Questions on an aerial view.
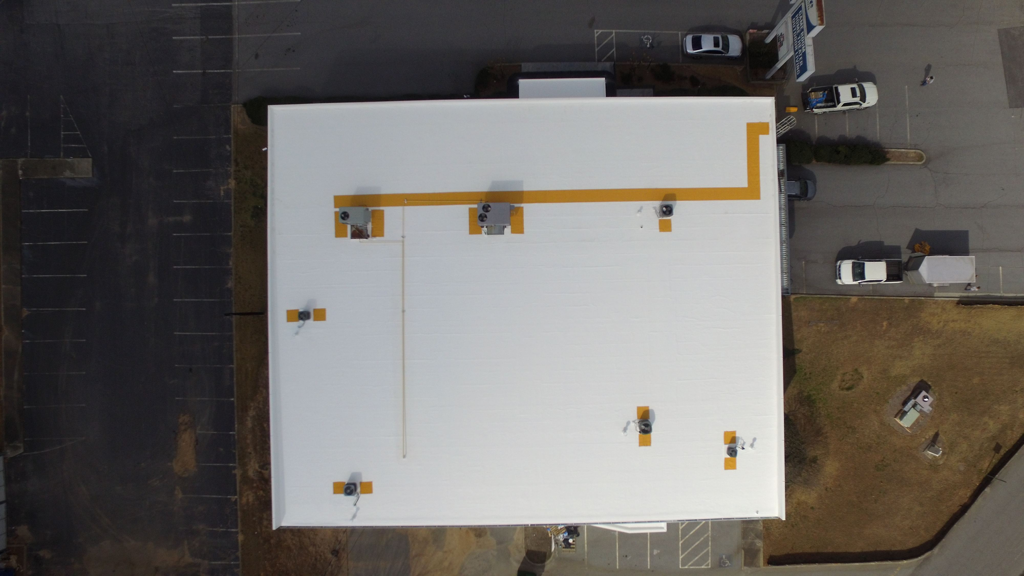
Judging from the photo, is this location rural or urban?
urban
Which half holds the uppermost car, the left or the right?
right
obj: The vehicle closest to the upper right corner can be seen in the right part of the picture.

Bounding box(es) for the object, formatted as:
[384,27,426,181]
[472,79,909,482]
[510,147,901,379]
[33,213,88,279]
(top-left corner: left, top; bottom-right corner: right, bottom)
[799,79,879,113]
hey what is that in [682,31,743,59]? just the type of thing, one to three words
car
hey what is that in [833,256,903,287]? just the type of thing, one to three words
truck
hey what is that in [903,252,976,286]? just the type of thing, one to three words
trailer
